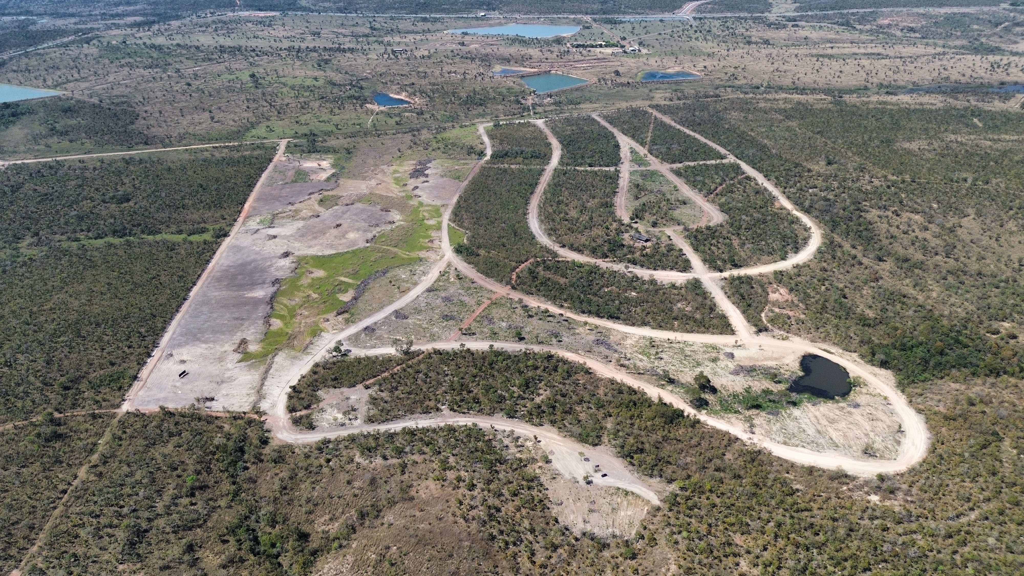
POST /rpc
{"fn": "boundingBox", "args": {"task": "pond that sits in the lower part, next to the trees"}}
[788,354,852,399]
